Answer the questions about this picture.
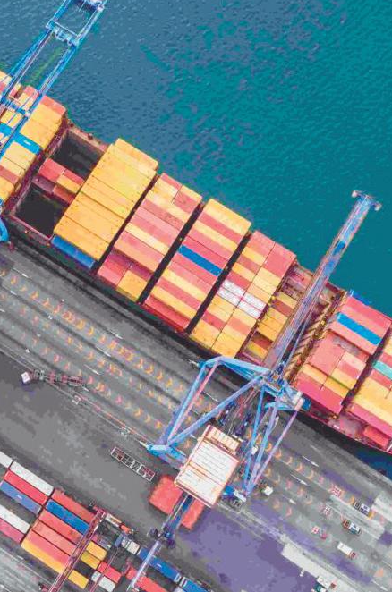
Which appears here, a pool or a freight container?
freight container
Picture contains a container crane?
Yes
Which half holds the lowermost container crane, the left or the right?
left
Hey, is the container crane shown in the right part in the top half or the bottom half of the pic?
bottom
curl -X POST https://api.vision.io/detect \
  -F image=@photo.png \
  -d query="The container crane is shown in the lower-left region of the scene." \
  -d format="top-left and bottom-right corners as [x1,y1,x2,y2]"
[36,493,133,592]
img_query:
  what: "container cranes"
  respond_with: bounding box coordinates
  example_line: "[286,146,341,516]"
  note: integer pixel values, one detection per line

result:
[131,184,388,592]
[36,493,133,592]
[0,0,112,254]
